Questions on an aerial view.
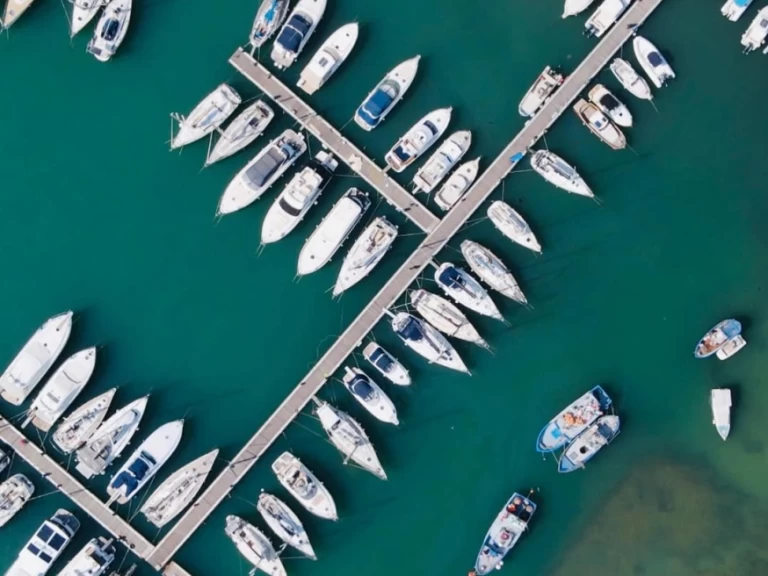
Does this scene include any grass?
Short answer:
No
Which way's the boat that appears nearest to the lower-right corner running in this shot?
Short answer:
up and down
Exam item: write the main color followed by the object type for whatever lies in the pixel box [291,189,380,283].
white boat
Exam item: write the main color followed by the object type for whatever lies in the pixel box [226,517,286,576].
white boat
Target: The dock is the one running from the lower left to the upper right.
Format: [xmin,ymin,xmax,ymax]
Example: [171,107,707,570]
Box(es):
[146,0,662,571]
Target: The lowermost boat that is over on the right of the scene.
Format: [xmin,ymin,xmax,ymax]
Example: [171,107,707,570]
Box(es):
[470,490,534,575]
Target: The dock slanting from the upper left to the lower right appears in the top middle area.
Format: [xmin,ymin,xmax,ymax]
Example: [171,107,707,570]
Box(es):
[229,47,441,235]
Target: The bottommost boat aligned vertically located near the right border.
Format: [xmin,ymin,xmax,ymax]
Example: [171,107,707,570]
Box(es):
[712,389,734,440]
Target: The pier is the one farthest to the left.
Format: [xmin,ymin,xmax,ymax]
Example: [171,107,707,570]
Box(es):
[0,414,158,559]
